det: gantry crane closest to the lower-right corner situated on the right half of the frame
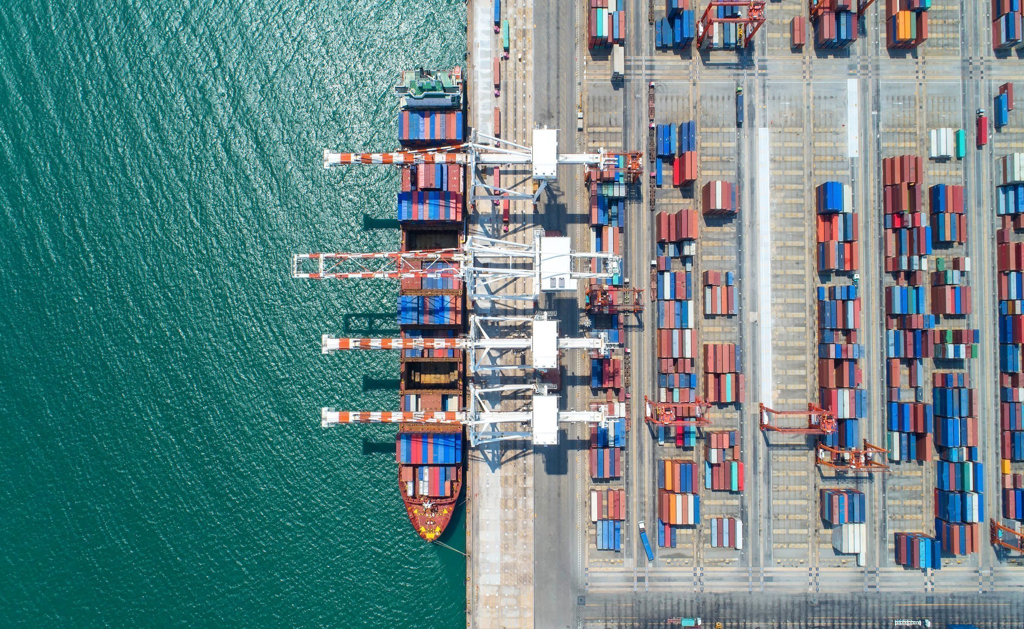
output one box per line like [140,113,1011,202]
[991,517,1024,557]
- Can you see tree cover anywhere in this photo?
No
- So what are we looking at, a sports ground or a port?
port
